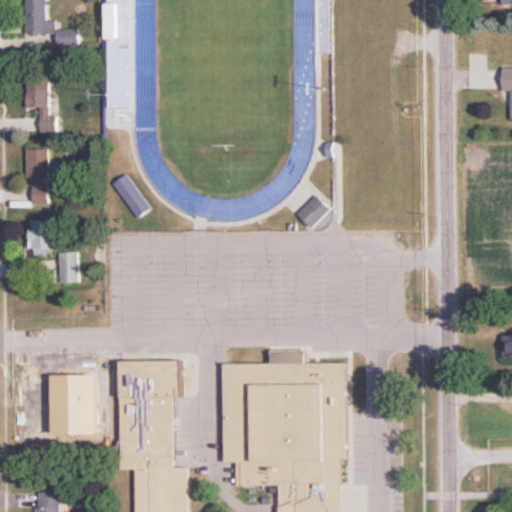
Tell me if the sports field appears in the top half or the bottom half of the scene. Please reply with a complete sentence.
It is in the top half that the sports field appears.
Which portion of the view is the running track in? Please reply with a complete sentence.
The running track is located in the top region of the scene.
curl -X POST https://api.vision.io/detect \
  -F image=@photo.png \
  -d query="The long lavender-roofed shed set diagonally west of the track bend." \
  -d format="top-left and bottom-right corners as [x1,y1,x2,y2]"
[113,174,152,218]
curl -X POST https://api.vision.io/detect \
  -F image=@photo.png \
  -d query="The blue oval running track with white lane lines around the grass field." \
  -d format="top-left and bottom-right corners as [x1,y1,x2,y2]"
[136,0,314,220]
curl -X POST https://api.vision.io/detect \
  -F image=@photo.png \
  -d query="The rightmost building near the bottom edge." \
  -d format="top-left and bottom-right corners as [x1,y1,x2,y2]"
[222,352,348,512]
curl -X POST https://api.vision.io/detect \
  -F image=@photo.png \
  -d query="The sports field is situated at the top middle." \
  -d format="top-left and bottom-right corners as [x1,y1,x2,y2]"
[156,0,294,199]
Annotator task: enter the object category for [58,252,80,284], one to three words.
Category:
house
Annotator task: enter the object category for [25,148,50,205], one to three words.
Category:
house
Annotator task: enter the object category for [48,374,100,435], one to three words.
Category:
shed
